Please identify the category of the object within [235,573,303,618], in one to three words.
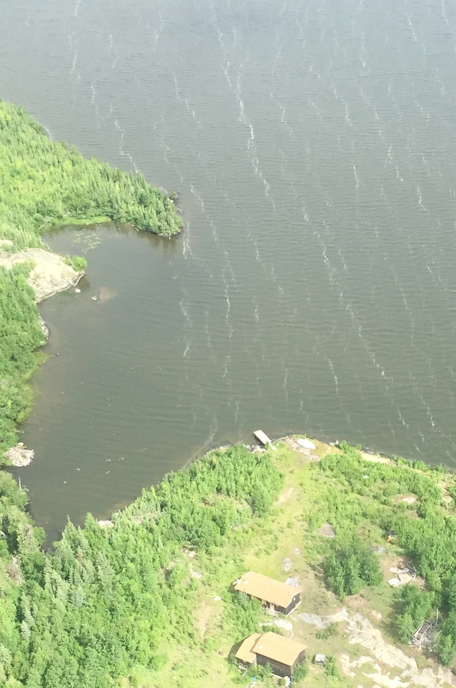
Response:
building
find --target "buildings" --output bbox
[235,573,303,618]
[239,631,311,674]
[413,616,439,649]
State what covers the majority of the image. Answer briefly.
water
